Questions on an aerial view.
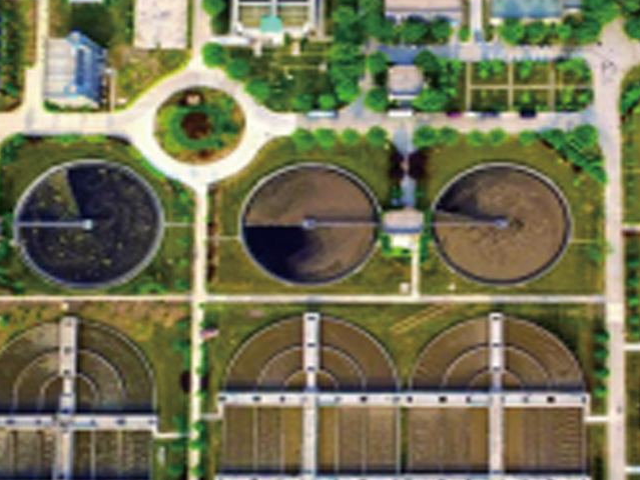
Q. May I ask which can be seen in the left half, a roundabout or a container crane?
roundabout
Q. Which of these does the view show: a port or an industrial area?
industrial area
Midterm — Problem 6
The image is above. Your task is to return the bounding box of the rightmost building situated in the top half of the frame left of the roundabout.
[44,35,107,111]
